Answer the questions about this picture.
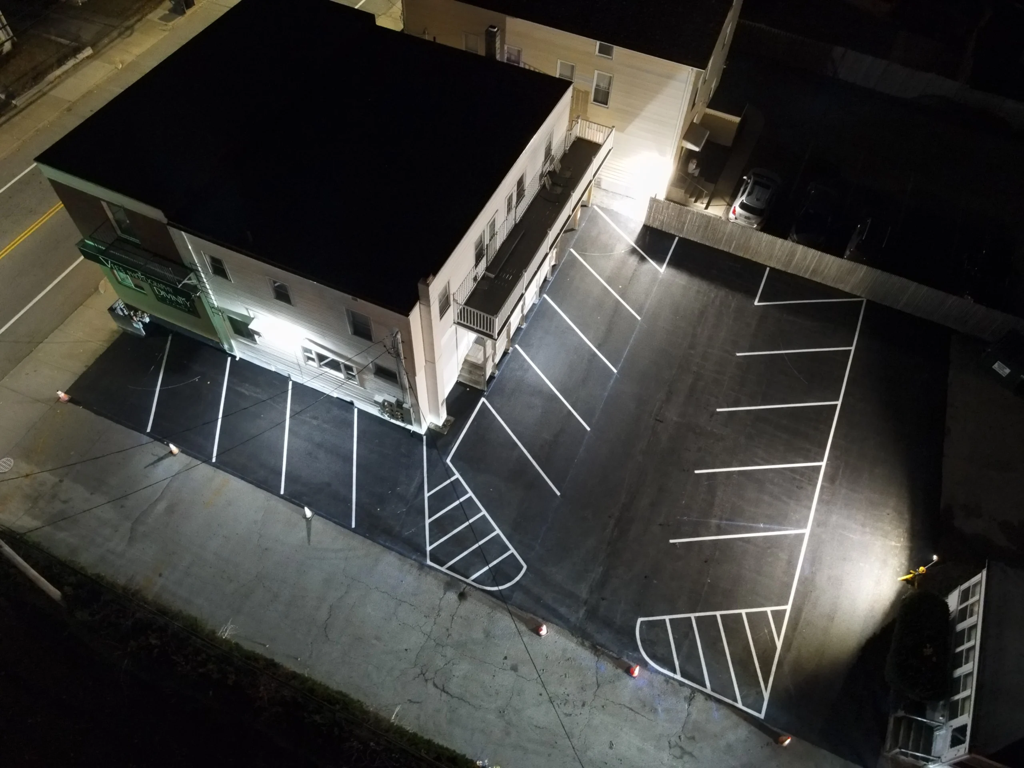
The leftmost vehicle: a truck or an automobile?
automobile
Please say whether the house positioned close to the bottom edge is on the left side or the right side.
right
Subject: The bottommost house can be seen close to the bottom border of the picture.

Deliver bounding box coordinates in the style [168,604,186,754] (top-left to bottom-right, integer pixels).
[878,554,1024,768]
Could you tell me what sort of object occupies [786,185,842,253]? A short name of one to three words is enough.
car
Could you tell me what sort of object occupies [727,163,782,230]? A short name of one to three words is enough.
car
